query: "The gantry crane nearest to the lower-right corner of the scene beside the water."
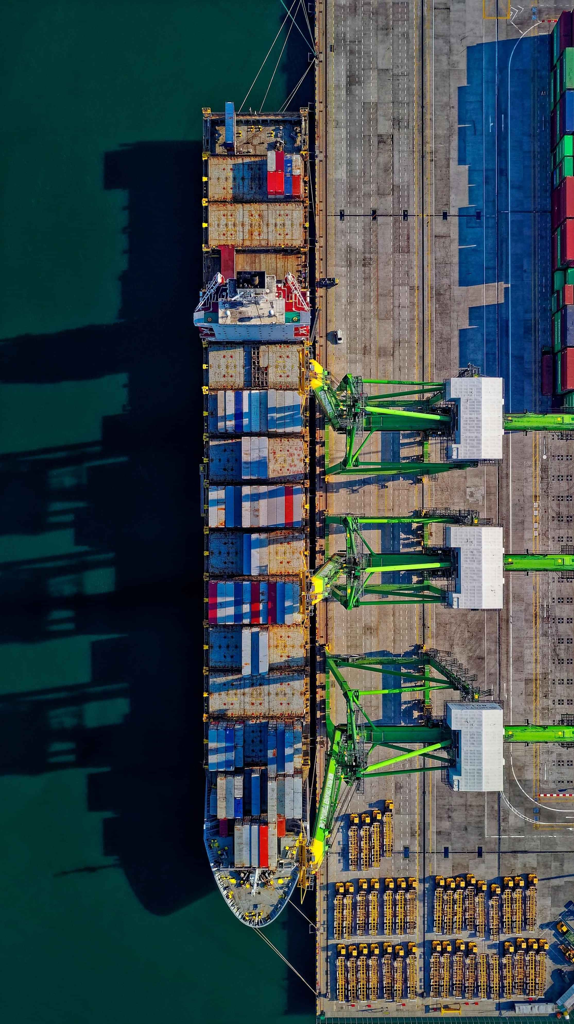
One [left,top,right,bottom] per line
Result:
[297,643,574,898]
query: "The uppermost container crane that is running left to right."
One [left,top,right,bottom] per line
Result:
[296,343,574,484]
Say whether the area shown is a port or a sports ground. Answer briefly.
port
